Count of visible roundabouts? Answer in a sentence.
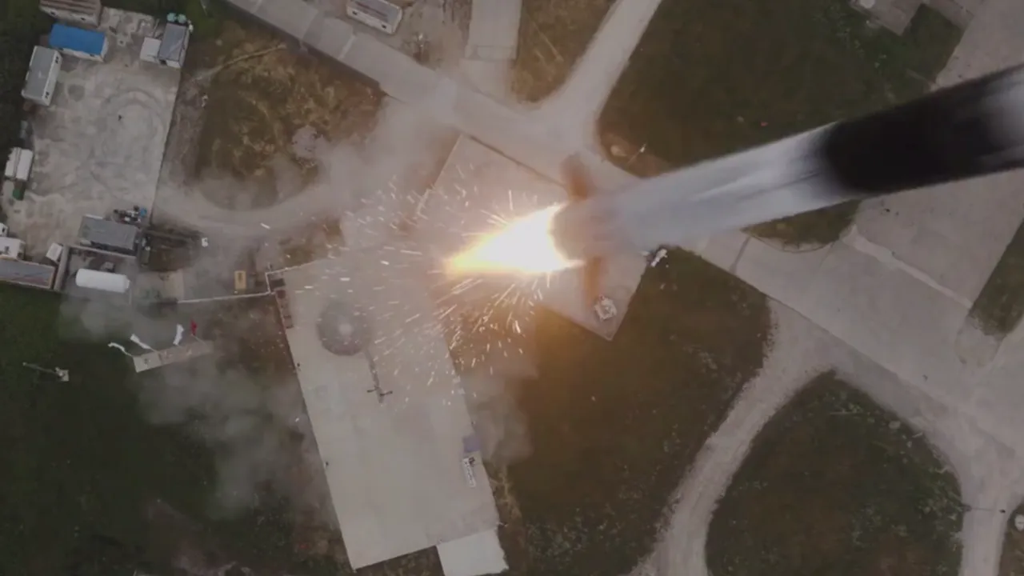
No roundabouts are visible.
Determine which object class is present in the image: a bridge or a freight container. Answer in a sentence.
Looking from above, you can make out a freight container.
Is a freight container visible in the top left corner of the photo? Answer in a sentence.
Yes, a freight container is visible in the top left corner of the photo.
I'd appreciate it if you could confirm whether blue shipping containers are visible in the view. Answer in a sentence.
Yes, there's a blue shipping container down there.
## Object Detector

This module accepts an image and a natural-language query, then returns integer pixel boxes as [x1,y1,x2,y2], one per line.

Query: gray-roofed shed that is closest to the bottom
[0,261,58,293]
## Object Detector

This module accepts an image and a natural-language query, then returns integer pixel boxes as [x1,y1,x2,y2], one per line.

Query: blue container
[49,24,109,64]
